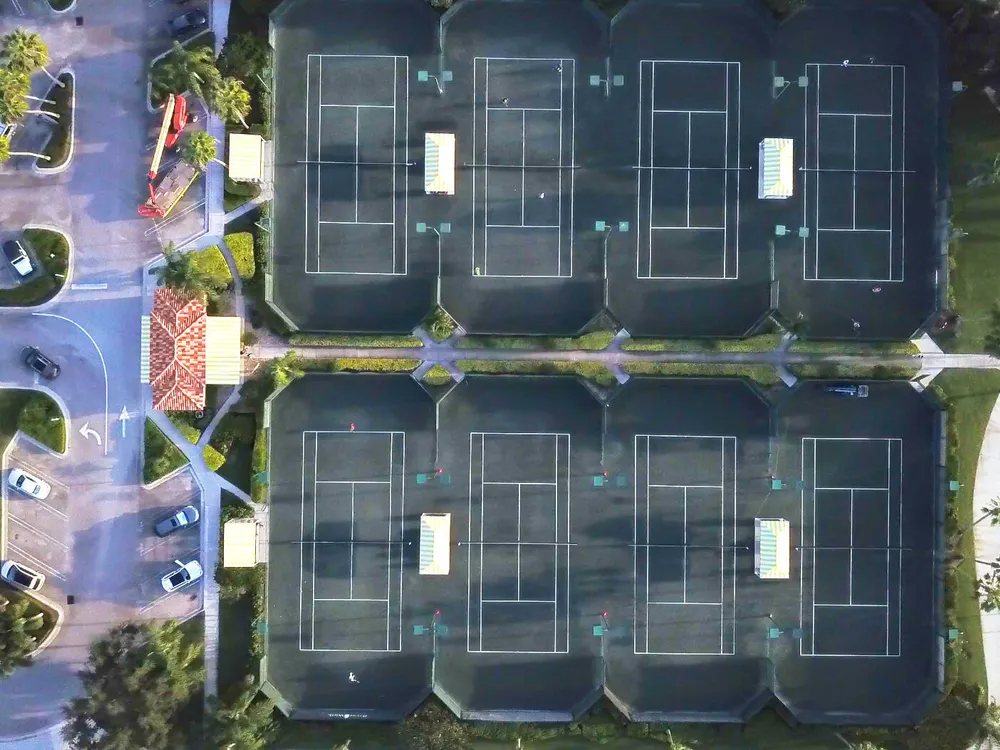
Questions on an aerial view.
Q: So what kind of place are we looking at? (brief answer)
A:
sports ground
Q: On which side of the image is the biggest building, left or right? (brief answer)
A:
left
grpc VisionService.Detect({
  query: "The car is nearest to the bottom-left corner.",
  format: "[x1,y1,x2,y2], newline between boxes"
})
[0,559,47,593]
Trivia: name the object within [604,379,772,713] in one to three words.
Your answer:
tennis court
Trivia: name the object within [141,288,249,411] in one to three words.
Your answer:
building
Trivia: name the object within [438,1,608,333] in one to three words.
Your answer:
tennis court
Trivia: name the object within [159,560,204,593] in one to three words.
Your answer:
car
